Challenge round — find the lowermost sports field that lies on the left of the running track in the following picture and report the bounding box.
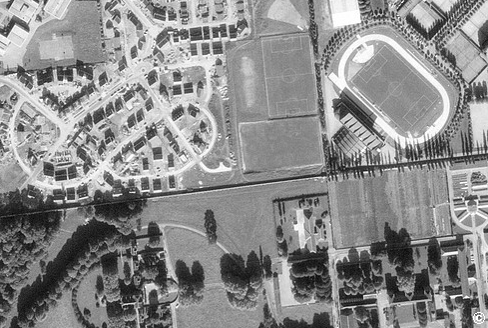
[239,117,323,171]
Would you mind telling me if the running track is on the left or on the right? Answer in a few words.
right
